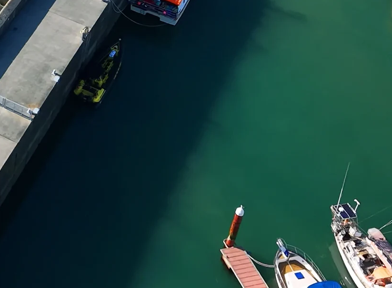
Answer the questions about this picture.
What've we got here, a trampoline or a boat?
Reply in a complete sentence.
The one in the frame is a boat.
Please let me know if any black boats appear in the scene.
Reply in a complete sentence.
Yes, this view includes a black boat.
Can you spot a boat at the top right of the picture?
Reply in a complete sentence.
No, I see no boat at the top right of the picture.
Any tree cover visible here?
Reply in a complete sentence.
No, the scene doesn't show any tree cover.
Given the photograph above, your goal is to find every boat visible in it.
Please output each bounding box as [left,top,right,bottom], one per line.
[70,36,126,110]
[279,246,340,288]
[129,0,187,35]
[326,179,392,288]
